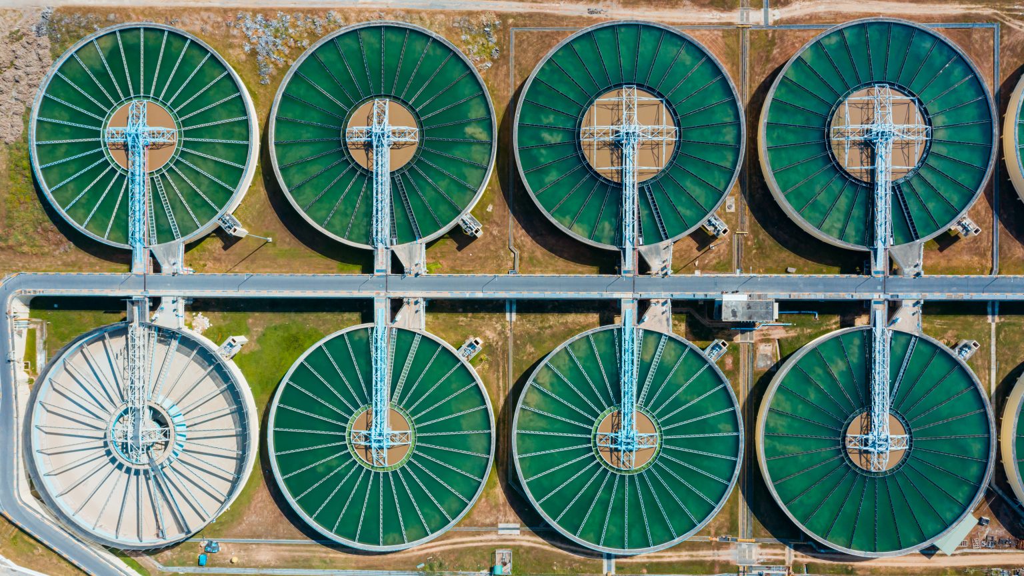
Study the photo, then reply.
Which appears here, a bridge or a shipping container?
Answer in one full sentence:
It is a bridge that can be seen here.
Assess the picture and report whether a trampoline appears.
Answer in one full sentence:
No, I can't see a single trampoline in this photo.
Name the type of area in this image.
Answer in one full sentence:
It's an industrial area.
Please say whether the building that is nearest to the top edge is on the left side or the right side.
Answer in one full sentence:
The building that is nearest to the top edge is on the right side of the image.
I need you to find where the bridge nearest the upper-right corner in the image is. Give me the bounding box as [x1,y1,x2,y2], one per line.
[830,82,934,277]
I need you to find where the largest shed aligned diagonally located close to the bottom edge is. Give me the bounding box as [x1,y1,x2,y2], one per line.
[935,513,979,556]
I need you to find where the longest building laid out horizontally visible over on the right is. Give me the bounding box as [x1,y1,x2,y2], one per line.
[714,295,778,323]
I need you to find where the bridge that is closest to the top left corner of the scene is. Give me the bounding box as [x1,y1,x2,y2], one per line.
[102,98,177,274]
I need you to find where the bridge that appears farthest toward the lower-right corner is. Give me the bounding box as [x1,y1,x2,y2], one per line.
[847,305,913,474]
